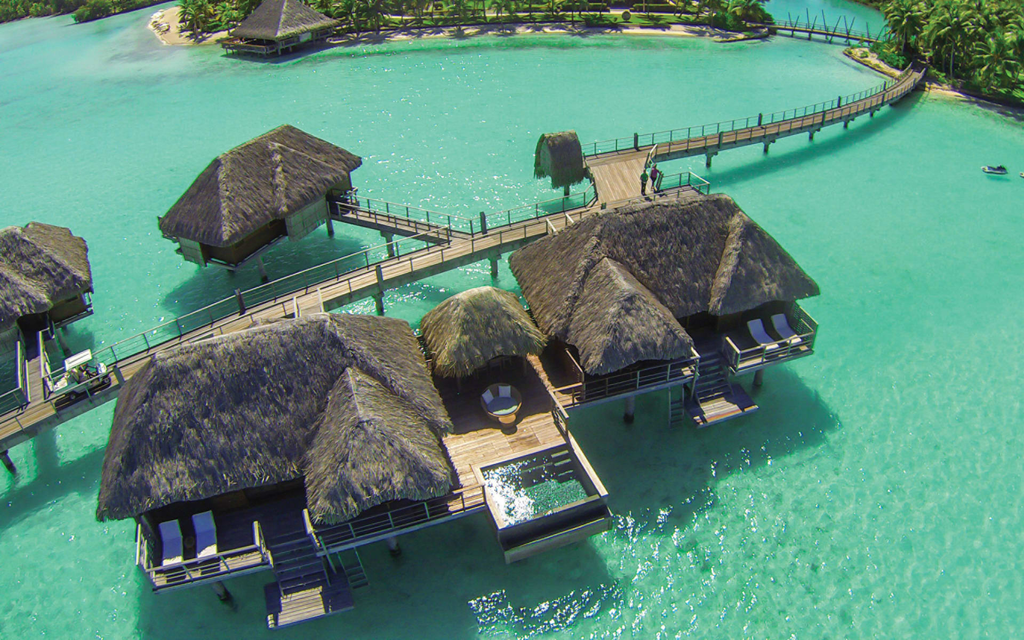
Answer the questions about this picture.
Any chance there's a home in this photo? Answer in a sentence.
Yes, you can see a home in this photo.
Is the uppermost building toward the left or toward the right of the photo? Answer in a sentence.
The uppermost building is on the left side of the image.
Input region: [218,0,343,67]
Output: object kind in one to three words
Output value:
building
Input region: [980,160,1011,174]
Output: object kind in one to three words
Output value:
boat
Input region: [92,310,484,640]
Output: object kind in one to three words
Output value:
house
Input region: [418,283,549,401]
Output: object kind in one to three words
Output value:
gazebo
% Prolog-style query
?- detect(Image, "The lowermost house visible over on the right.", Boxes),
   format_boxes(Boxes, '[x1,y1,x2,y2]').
[508,193,822,442]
